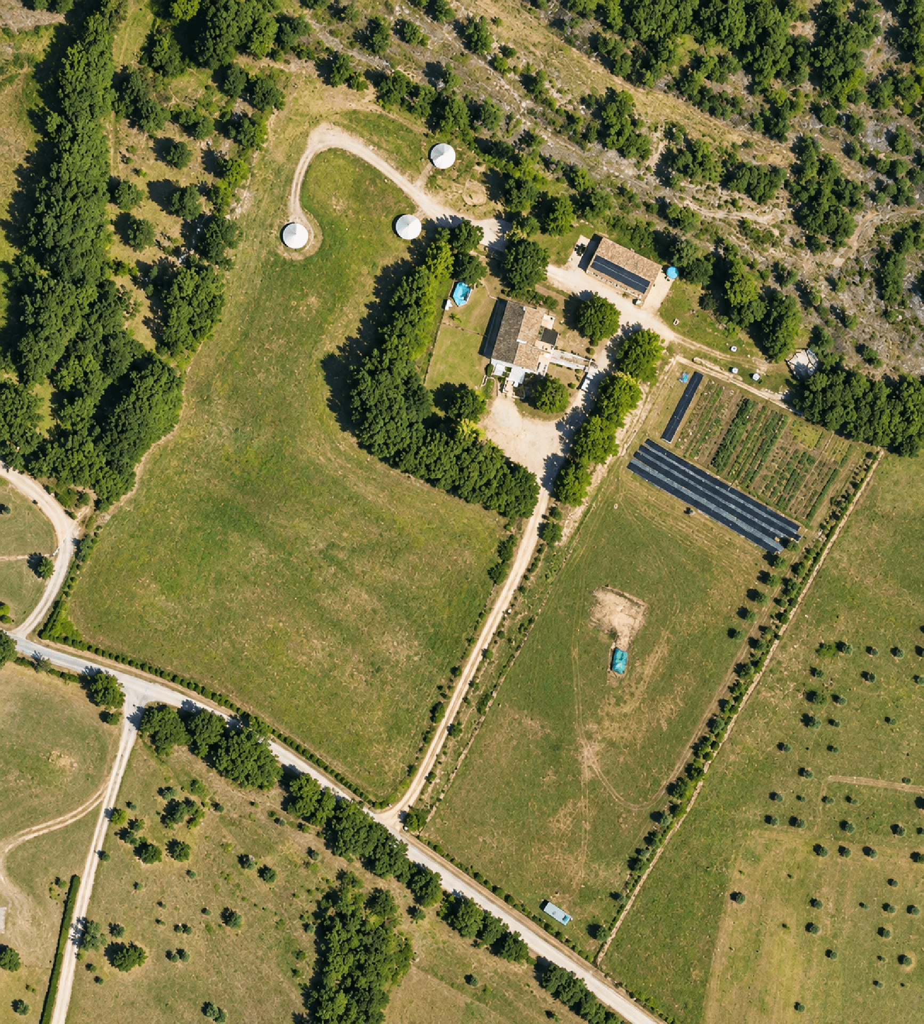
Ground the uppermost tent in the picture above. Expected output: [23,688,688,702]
[430,144,456,170]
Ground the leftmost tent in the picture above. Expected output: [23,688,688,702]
[282,223,308,249]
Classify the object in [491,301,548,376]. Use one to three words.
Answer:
house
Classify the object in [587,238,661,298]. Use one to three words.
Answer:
barn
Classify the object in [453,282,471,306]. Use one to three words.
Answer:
swimming pool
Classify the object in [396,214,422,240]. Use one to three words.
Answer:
tent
